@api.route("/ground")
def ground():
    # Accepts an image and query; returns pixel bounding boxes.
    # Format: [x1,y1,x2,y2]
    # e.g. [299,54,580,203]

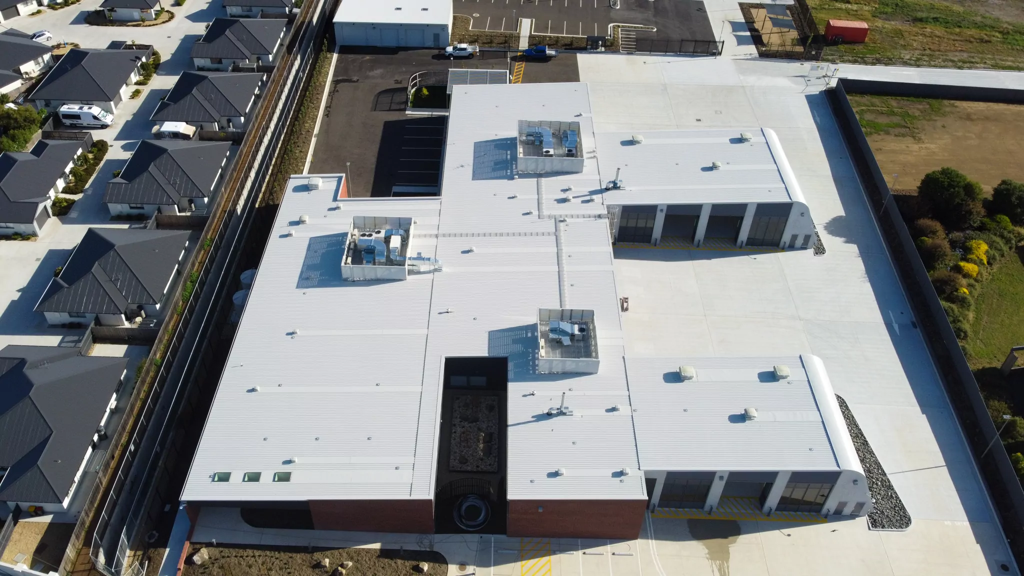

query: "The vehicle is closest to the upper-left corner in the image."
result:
[29,28,54,41]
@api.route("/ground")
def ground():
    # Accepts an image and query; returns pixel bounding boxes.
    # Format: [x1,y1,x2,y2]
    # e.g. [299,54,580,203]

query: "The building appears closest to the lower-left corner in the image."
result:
[0,344,132,513]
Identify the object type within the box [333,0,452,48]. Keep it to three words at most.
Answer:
shed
